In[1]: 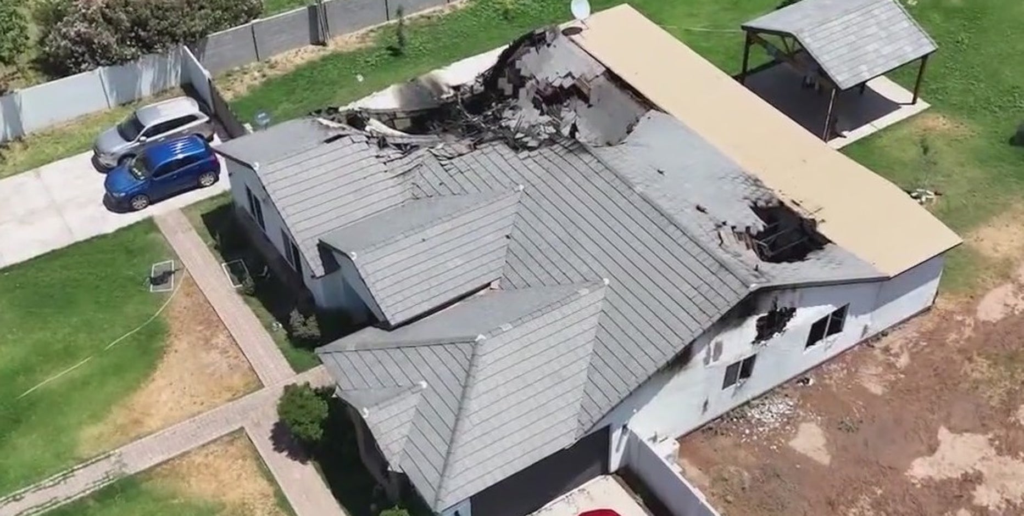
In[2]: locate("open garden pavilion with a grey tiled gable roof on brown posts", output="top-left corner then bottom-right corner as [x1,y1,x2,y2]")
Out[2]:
[730,0,943,141]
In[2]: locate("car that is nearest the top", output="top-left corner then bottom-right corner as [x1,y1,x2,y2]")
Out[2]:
[87,89,217,170]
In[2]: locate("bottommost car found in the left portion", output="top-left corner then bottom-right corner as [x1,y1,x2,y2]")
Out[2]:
[100,132,222,209]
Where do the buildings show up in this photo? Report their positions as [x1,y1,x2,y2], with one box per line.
[730,0,943,141]
[215,7,967,516]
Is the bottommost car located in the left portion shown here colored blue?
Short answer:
Yes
